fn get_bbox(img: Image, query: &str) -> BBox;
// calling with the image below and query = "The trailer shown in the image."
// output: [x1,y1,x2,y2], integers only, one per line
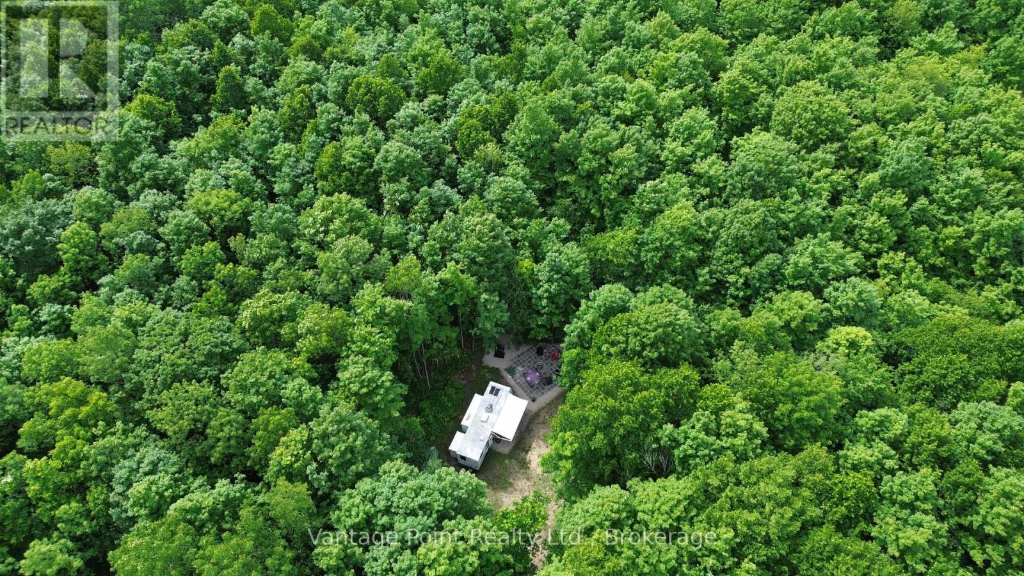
[449,381,528,475]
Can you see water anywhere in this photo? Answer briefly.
No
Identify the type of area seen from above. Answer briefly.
forest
